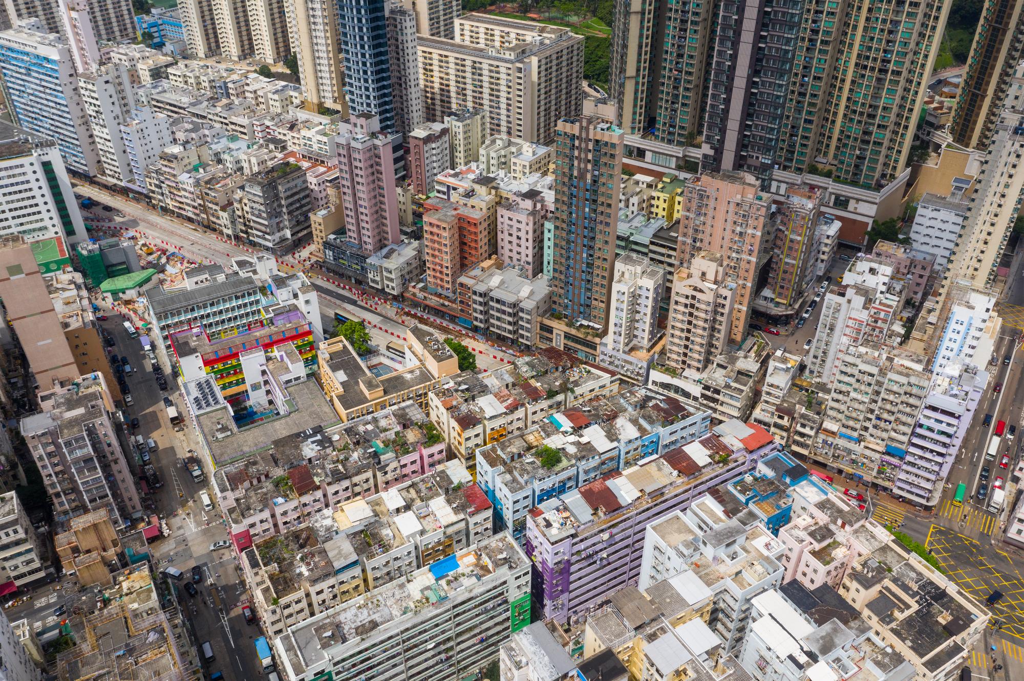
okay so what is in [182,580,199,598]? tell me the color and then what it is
black car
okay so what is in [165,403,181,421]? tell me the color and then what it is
white vehicle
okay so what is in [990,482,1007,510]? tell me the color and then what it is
white vehicle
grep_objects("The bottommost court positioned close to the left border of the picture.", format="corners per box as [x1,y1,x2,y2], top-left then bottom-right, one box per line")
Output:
[32,237,72,266]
